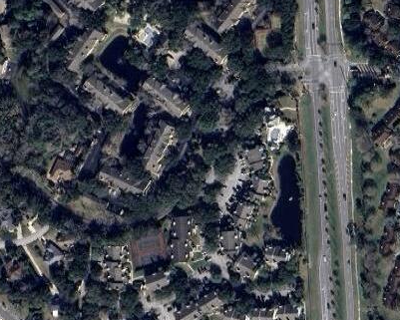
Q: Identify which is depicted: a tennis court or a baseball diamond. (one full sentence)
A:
The image shows a tennis court.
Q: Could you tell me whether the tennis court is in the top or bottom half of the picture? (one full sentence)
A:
Seen from above, the tennis court lies in the bottom half of the view.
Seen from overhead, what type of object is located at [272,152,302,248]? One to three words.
pond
